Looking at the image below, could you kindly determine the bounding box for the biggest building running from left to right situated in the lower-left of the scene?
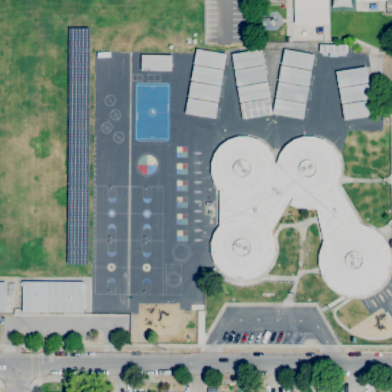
[21,282,84,313]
